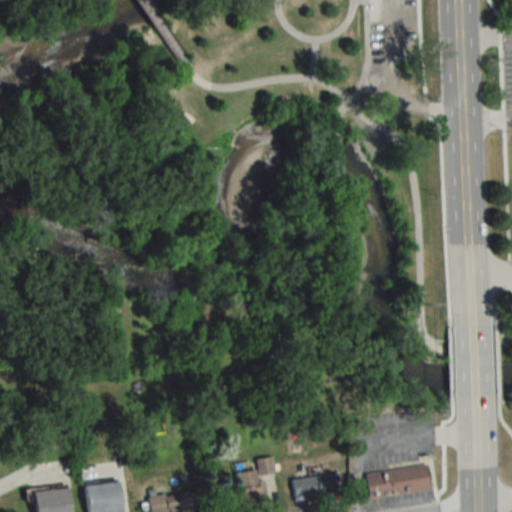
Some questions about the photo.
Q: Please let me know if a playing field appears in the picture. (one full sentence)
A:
No, the photo shows no playing field.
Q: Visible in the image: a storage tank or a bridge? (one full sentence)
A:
This aerial view contains a bridge.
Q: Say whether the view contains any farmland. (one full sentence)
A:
No, the picture contains no farmland.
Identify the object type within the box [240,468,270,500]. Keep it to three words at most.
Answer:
house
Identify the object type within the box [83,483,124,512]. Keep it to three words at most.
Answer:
house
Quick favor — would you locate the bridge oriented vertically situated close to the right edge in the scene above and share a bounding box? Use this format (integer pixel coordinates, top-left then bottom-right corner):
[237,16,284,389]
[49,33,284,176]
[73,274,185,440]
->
[448,313,502,424]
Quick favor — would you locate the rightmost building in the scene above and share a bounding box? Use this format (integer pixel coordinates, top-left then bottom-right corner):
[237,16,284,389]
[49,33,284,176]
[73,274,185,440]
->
[367,464,433,506]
